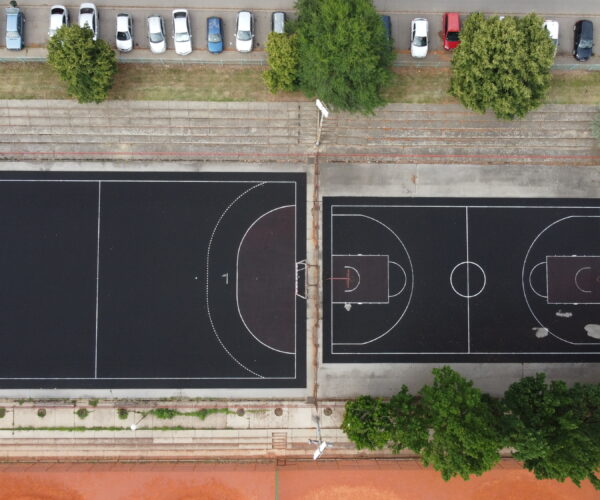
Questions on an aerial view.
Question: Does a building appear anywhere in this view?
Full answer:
No, the frame has no building in it.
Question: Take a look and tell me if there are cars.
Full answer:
Yes, the frame does contain a car.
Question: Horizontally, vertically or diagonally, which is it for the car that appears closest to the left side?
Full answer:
From this overhead view, the car that appears closest to the left side appears to run vertically.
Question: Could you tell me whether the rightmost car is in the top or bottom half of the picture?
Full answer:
The rightmost car is in the top half of the image.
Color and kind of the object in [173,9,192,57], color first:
white car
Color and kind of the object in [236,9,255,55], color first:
white car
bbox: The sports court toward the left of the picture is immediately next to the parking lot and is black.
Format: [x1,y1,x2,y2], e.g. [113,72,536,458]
[0,171,306,389]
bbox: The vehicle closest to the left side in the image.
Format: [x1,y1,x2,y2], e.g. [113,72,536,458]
[4,3,27,52]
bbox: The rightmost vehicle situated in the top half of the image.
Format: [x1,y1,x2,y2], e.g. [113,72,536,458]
[572,18,595,63]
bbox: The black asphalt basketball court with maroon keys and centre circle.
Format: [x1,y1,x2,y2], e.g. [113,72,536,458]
[323,196,600,363]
